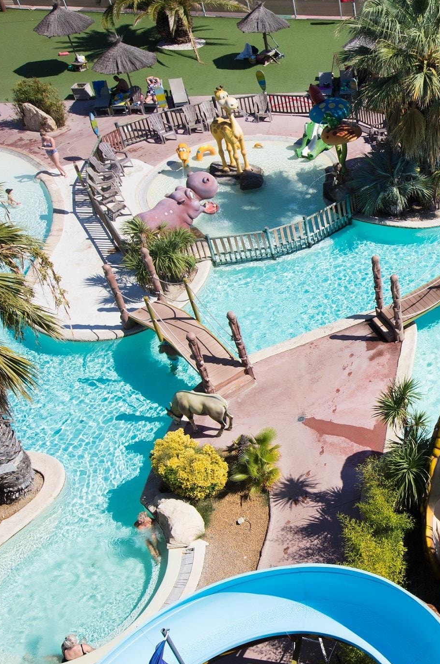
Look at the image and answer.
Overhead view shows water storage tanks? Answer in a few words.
No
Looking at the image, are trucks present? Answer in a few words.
No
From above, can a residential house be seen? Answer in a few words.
No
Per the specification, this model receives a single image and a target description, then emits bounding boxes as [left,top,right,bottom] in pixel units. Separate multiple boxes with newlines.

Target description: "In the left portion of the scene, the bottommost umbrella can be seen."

[88,29,160,87]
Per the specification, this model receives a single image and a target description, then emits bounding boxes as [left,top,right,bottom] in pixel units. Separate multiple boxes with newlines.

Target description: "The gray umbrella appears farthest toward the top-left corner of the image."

[26,1,95,57]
